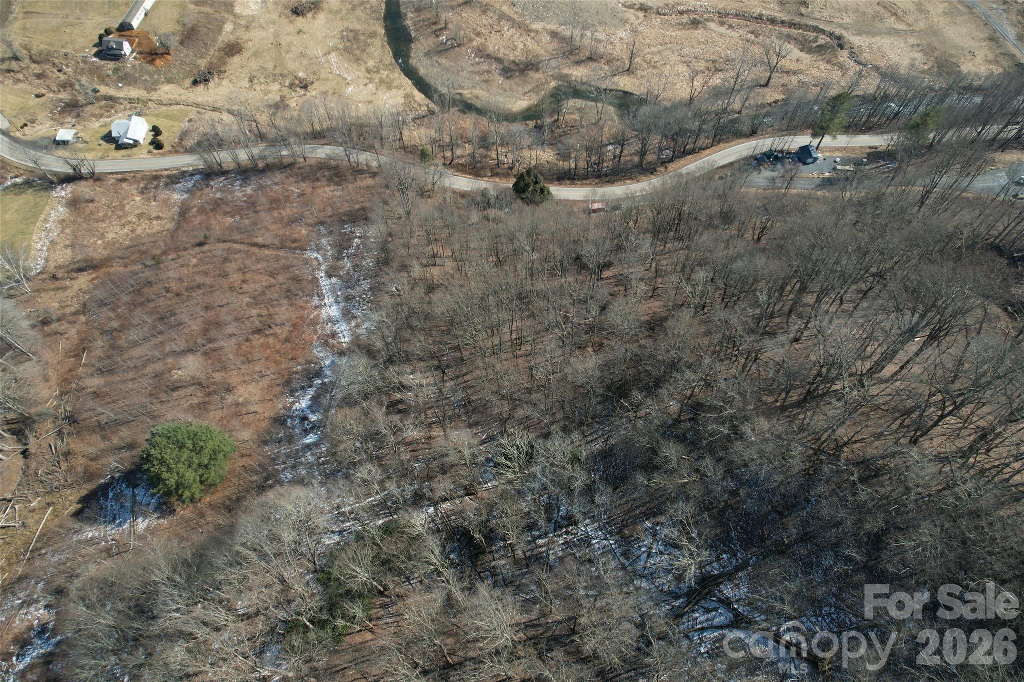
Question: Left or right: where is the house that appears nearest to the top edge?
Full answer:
The house that appears nearest to the top edge appears in the left half of the scene.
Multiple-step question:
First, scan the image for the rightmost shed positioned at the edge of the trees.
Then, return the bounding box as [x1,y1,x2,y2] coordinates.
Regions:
[798,141,822,164]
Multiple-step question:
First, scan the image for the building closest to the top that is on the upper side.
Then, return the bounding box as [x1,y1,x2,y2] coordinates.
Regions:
[122,0,156,30]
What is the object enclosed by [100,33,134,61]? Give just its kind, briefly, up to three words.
house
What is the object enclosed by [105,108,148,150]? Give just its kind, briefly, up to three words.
house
